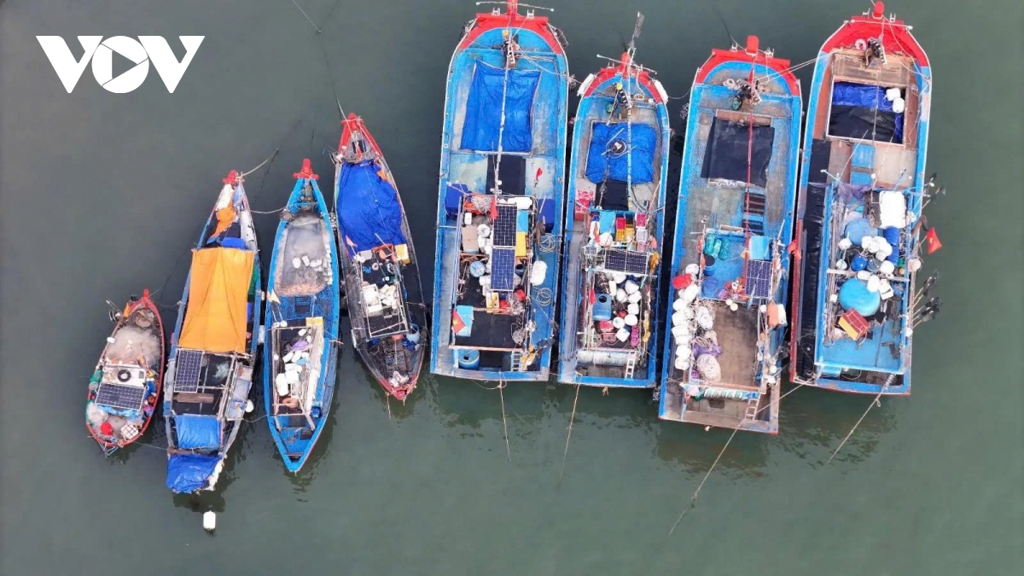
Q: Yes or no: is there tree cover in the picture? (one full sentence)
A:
No, the picture contains no tree cover.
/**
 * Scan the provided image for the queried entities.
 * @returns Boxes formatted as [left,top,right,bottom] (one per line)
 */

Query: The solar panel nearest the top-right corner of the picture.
[745,258,771,300]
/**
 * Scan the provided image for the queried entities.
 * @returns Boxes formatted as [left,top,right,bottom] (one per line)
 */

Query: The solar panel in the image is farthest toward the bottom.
[94,382,146,412]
